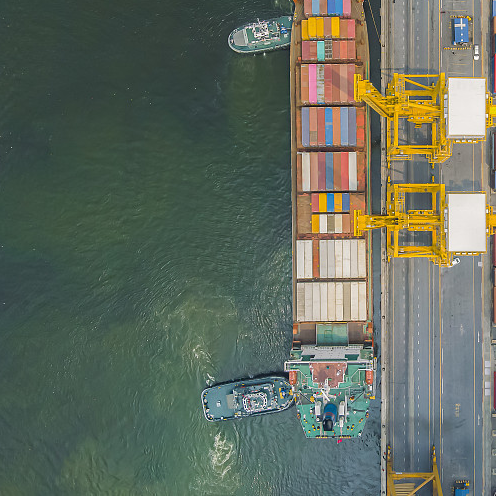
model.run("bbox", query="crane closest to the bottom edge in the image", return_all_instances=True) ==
[388,446,444,496]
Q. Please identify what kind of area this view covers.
port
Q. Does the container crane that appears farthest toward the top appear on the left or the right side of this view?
right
